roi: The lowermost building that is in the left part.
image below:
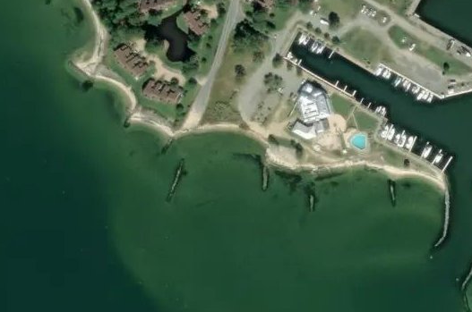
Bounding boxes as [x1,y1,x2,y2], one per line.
[144,80,181,104]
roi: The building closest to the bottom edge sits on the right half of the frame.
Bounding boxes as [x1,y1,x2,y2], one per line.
[289,118,329,142]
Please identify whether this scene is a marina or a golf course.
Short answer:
marina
